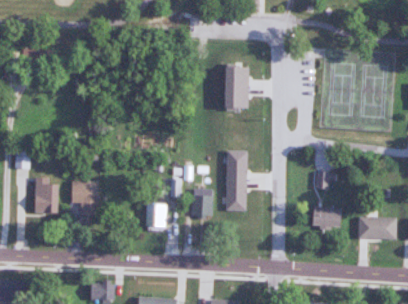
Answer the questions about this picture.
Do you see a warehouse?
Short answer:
No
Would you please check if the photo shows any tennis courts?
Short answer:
Yes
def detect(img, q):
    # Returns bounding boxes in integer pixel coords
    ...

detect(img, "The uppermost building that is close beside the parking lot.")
[225,62,250,114]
